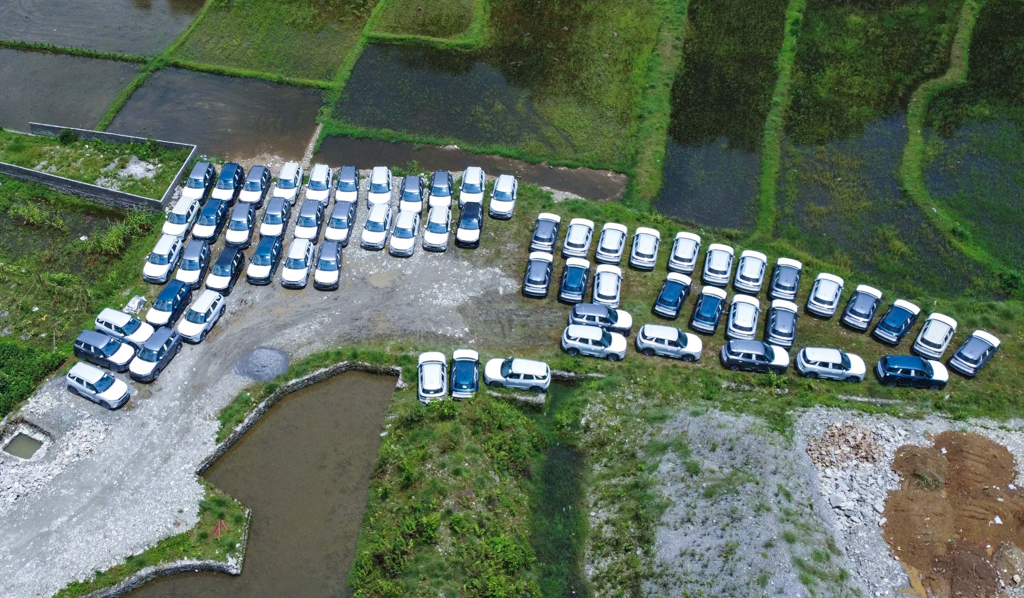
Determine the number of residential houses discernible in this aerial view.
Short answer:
0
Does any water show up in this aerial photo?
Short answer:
Yes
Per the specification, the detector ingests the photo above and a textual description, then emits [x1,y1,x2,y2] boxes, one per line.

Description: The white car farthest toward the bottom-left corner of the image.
[65,362,131,408]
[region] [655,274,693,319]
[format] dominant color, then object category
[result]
blue car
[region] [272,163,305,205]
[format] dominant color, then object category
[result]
white car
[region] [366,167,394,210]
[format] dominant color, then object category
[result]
white car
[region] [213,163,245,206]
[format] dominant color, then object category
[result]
blue car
